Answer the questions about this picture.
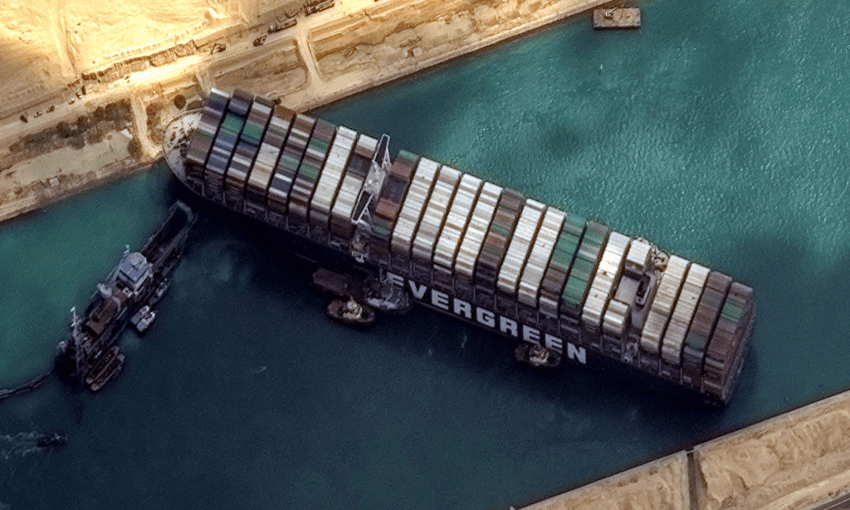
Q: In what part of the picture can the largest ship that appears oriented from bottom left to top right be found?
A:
left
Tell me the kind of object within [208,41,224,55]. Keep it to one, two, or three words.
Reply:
work vehicle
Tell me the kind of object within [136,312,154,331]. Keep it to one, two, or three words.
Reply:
boat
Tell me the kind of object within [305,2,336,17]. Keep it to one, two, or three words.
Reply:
vehicle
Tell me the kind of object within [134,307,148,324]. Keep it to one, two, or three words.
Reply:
boat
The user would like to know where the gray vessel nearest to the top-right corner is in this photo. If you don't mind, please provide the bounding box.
[594,9,640,29]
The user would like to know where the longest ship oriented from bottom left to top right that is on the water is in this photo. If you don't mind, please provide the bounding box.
[63,201,193,377]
